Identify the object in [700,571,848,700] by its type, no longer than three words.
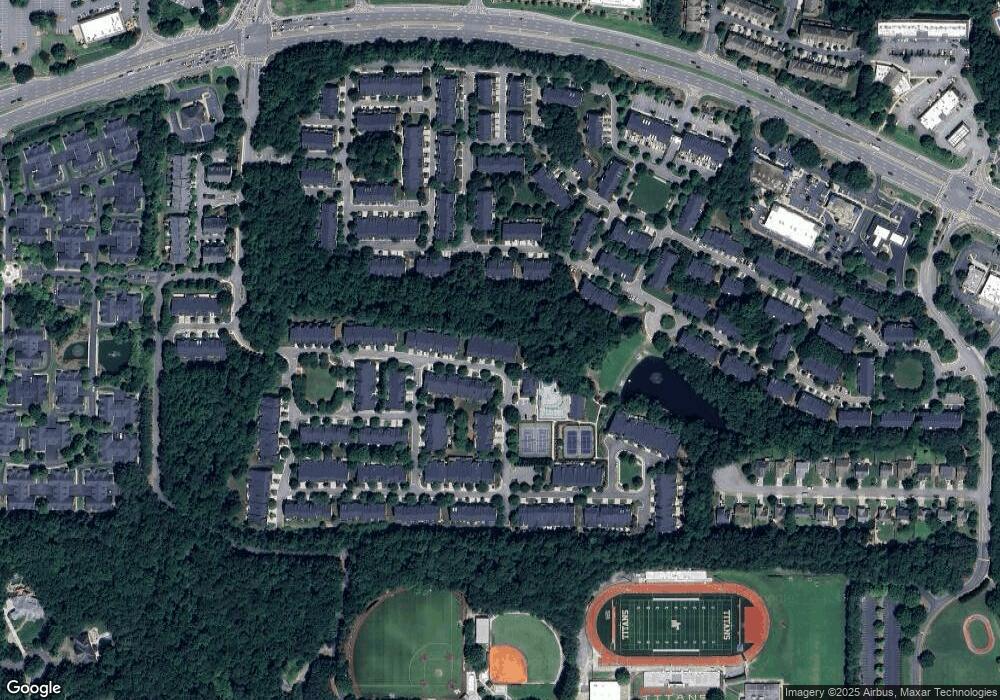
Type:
sports field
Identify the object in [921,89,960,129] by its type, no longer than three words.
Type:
building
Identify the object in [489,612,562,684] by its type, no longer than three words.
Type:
baseball field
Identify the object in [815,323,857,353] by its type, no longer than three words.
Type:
house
